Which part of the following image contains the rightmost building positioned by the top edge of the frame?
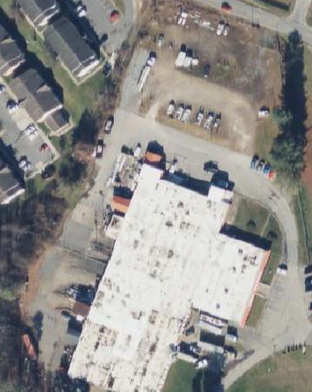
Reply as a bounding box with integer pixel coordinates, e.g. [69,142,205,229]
[42,17,103,76]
